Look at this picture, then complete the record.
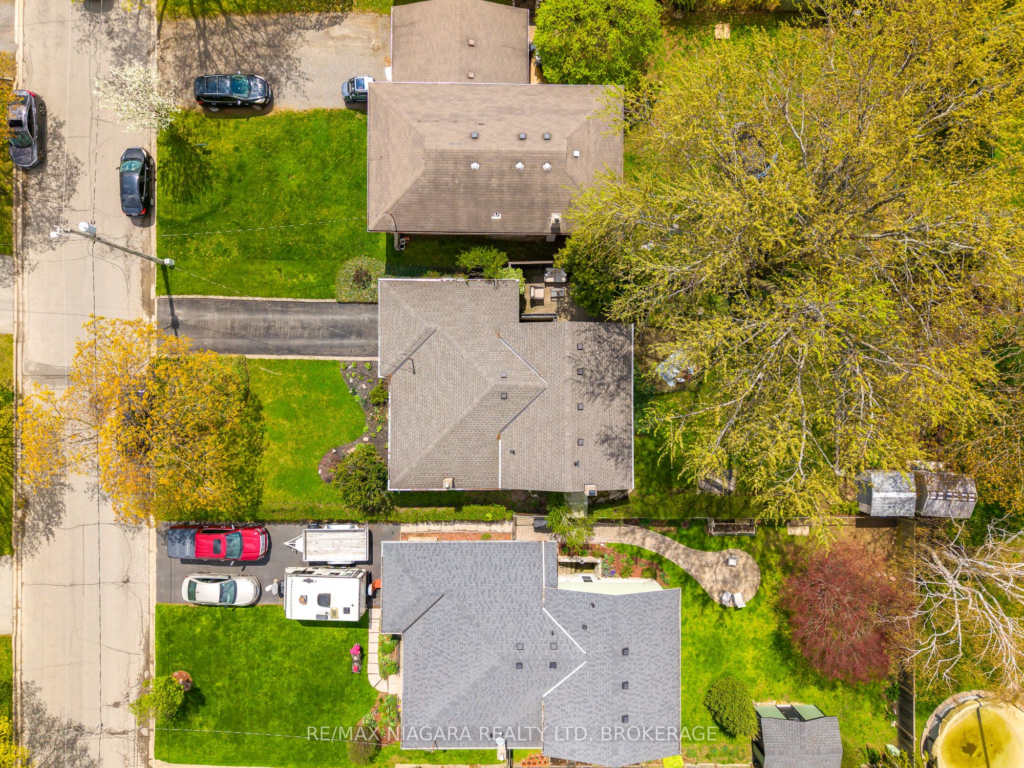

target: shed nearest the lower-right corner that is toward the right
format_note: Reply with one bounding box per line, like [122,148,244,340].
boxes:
[751,703,845,768]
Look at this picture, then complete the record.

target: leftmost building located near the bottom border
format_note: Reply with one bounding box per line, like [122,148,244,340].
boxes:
[379,538,684,764]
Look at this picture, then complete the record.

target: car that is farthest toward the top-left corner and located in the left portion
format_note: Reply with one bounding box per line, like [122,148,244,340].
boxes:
[4,90,50,173]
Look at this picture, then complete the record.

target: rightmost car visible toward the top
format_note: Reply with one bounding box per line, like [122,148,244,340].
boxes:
[340,71,390,111]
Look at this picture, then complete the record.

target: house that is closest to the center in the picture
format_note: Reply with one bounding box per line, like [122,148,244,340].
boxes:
[376,277,636,496]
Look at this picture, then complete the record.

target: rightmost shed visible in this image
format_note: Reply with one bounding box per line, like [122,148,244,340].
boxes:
[915,471,980,516]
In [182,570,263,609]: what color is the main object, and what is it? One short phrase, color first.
white car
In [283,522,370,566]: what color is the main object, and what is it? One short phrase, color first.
white trailer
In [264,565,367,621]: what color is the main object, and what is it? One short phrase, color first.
white trailer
